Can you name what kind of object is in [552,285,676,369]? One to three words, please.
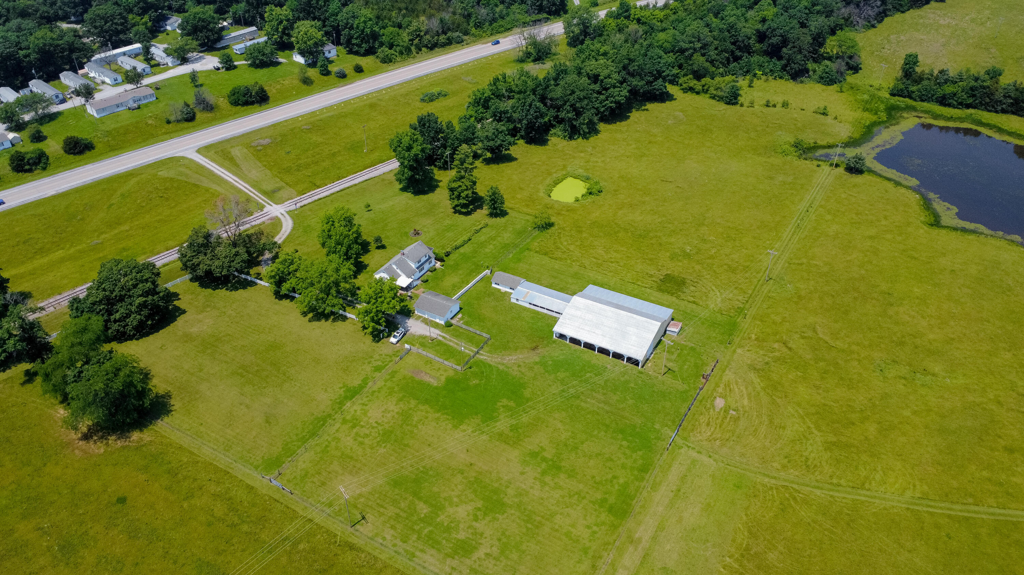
barn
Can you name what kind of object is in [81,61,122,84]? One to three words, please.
house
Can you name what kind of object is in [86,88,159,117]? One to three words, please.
house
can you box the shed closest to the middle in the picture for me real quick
[490,269,525,293]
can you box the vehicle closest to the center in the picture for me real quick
[388,327,406,343]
